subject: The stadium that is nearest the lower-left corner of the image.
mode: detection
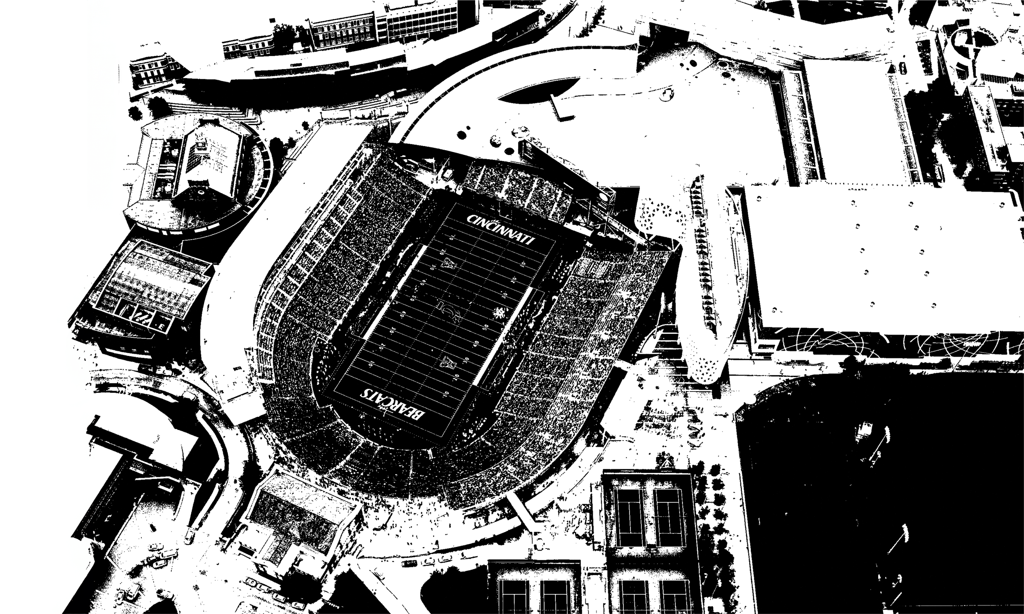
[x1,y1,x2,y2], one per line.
[200,125,676,511]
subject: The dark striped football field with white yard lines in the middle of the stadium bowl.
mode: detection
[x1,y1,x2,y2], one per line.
[309,179,586,478]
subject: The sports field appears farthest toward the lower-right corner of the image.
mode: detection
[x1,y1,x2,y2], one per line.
[735,372,1024,614]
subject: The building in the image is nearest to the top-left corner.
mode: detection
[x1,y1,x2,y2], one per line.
[123,32,170,81]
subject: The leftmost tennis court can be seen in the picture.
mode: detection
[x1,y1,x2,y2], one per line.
[498,580,531,614]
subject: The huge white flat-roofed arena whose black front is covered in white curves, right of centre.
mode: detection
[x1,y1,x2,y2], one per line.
[739,180,1024,360]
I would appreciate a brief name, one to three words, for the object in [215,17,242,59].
building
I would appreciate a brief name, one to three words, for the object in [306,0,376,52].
building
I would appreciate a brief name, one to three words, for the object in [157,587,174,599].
vehicle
